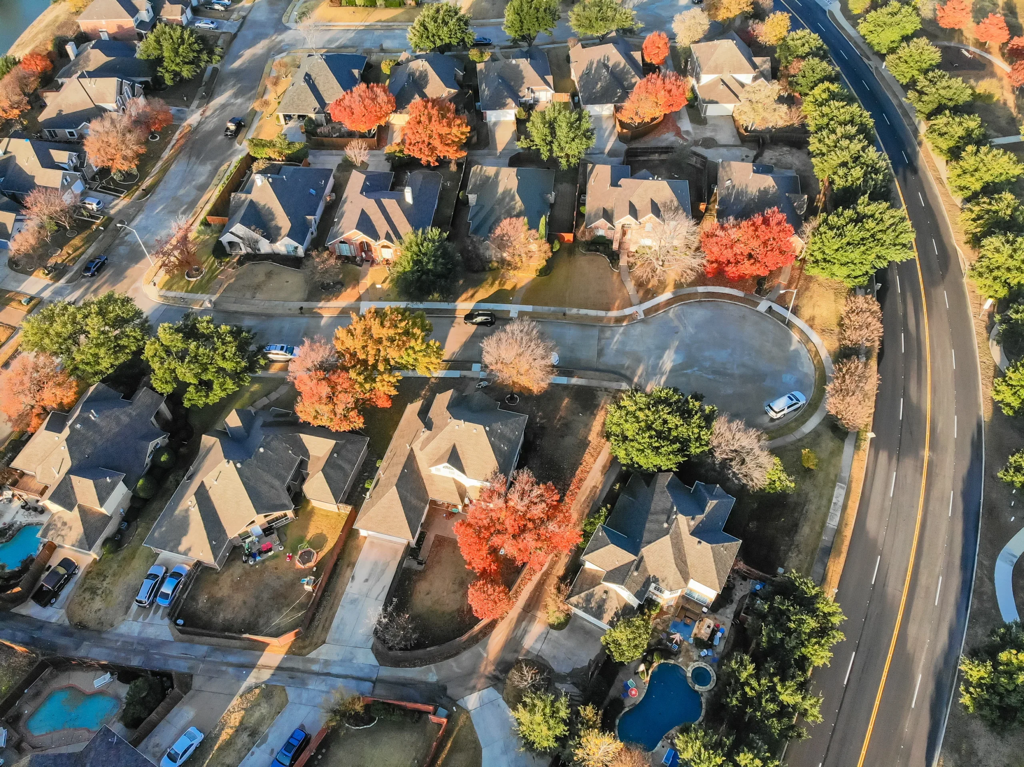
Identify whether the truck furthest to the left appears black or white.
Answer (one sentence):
The truck furthest to the left is black.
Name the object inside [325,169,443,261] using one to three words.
house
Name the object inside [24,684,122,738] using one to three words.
swimming pool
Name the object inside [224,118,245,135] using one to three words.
vehicle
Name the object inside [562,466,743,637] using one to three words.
house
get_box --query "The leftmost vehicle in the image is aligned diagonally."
[25,553,83,610]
